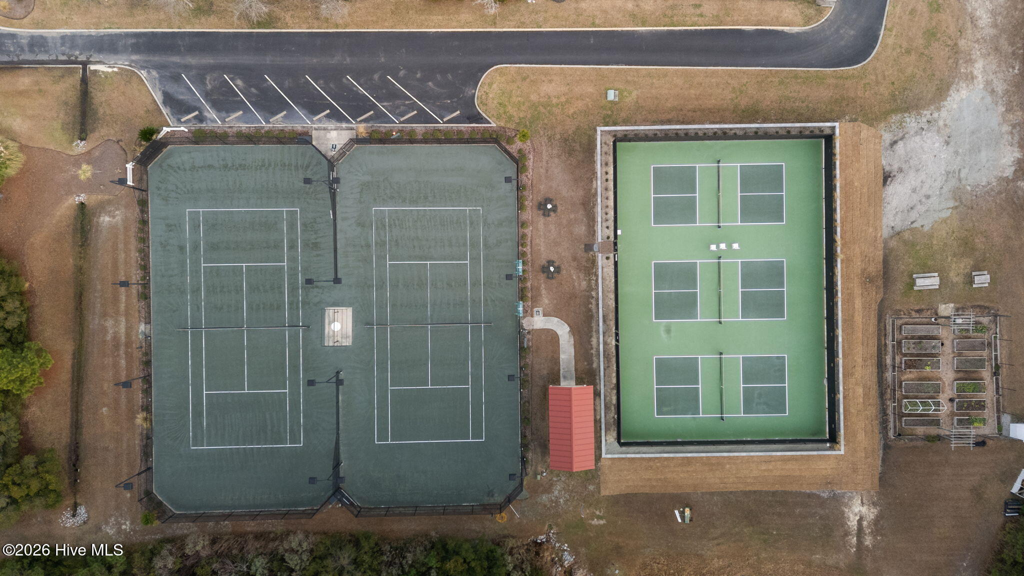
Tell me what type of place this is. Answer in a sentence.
This looks like a sports ground.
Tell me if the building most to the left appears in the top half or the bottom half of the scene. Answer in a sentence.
It is in the bottom half that the building most to the left appears.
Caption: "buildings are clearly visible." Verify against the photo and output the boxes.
[548,382,594,472]
[1005,414,1024,437]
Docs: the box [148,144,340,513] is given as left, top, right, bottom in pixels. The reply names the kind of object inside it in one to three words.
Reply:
tennis court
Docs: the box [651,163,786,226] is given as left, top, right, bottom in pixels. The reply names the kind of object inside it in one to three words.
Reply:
sports court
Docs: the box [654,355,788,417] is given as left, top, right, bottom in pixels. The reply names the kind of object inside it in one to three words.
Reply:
sports court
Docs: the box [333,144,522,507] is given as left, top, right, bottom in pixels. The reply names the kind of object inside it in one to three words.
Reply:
tennis court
